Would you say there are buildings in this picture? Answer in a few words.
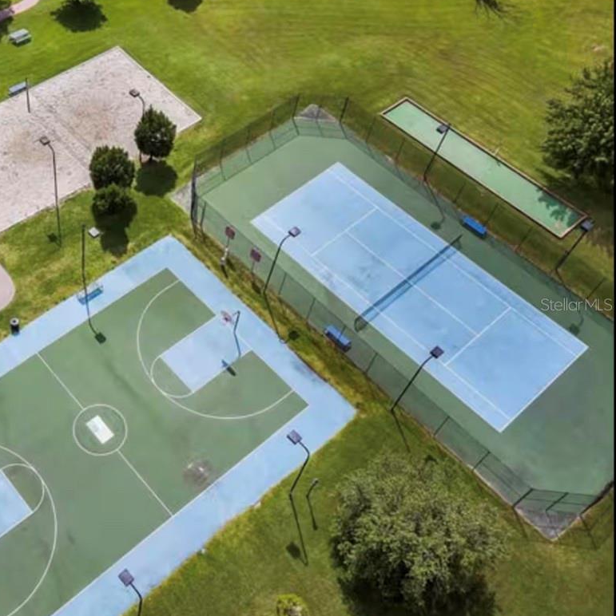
No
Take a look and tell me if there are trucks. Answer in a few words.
No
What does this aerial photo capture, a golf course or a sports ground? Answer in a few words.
sports ground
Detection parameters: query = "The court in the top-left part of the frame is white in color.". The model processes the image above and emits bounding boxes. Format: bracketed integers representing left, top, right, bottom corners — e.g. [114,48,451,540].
[0,45,207,232]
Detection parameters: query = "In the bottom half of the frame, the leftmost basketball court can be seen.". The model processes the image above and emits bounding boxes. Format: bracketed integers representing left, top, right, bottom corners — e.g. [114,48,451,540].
[0,235,363,616]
